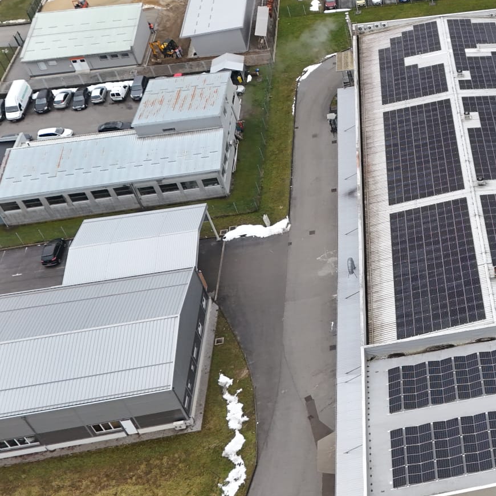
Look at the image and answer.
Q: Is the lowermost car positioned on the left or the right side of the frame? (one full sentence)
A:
The lowermost car appears in the left half of the scene.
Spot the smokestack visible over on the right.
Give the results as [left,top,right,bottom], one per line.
[341,7,353,53]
